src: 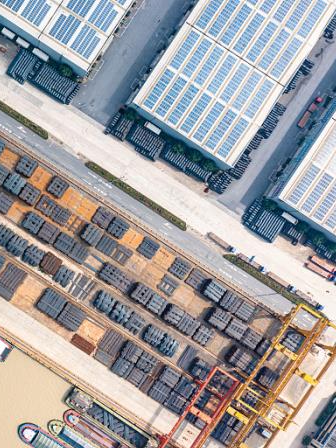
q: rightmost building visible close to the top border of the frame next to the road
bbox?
[126,0,336,172]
